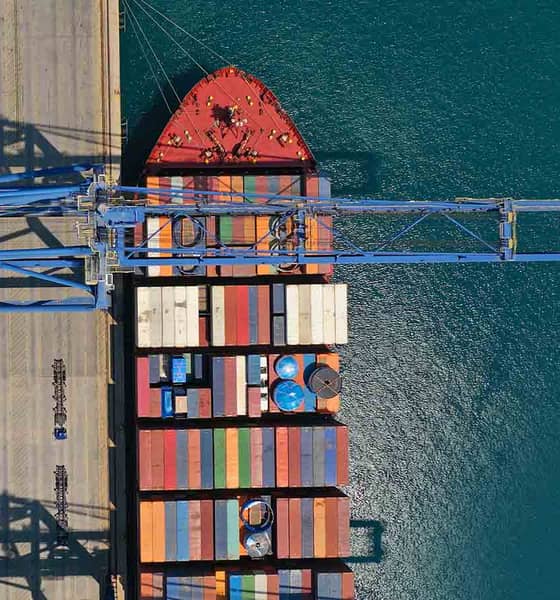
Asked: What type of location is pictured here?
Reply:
port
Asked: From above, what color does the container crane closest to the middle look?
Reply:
blue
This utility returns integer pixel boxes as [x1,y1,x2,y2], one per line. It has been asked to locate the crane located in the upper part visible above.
[0,160,560,309]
